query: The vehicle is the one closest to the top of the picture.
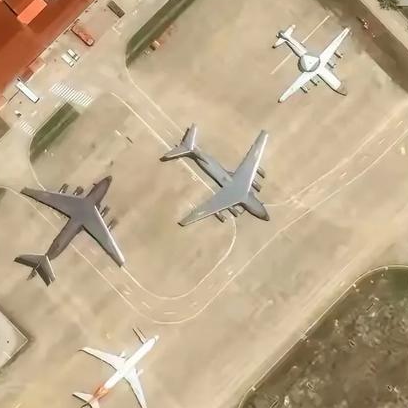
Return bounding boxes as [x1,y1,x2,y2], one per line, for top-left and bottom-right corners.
[107,0,125,17]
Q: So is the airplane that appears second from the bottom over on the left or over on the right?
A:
left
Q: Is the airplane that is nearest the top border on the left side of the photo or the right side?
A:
right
